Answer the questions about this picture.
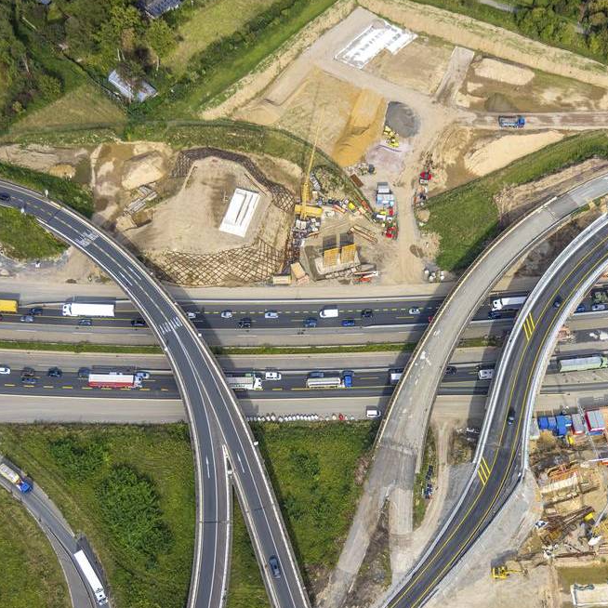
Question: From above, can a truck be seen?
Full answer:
Yes, a truck appears in the view.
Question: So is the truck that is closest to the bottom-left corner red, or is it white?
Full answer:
From above, the truck that is closest to the bottom-left corner appears white.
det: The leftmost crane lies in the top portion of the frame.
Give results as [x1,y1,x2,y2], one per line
[300,92,320,224]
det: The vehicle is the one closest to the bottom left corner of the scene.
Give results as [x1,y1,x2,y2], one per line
[72,548,109,608]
